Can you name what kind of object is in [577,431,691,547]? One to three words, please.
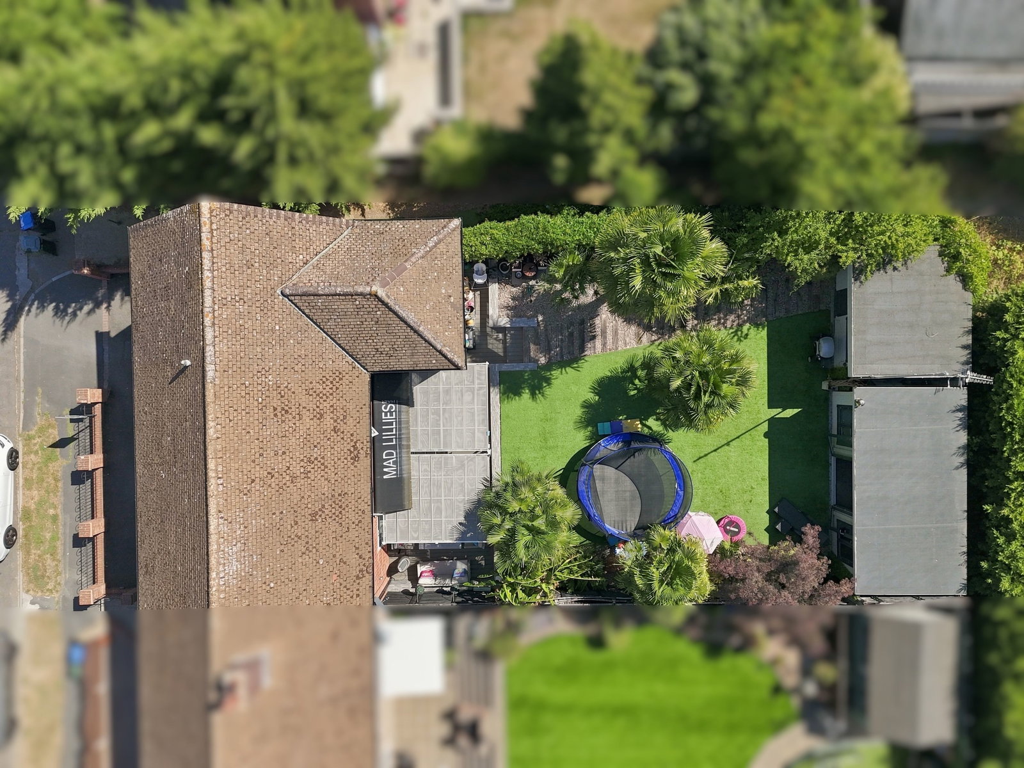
trampoline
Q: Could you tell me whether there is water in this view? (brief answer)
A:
No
